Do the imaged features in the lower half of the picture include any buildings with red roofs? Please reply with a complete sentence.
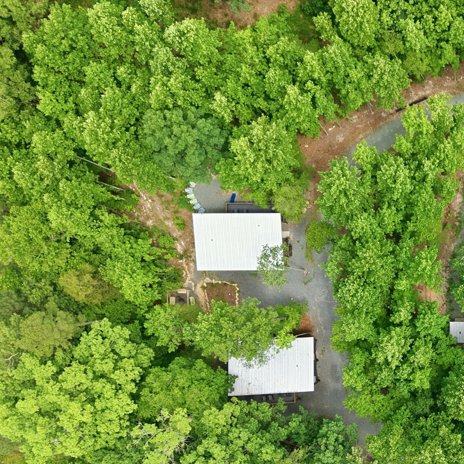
No, in the lower half of the picture there is no building with a red roof.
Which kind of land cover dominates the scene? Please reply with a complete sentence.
The scene is dominated by trees.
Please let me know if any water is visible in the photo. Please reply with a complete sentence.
No, no water is visible.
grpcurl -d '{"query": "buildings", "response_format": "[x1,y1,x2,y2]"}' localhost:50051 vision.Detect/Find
[228,338,321,403]
[193,203,292,271]
[449,318,464,343]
